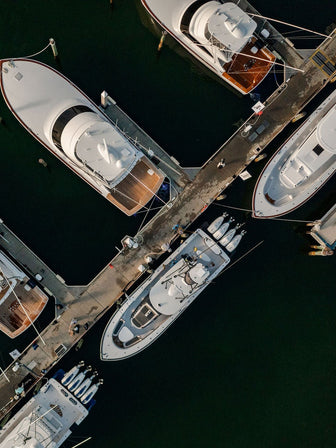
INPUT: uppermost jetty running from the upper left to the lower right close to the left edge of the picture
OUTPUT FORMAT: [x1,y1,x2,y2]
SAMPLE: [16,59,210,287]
[0,219,86,319]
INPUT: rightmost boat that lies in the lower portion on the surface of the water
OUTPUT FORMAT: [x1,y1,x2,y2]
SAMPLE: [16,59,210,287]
[100,213,263,361]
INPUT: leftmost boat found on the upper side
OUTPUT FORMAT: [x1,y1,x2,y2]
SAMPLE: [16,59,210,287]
[0,58,168,217]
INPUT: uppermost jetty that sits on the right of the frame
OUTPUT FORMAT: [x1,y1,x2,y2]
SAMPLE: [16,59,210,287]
[243,0,316,82]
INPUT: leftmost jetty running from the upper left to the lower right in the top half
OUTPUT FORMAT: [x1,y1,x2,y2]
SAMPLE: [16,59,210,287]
[101,101,201,205]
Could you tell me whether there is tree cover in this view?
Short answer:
No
